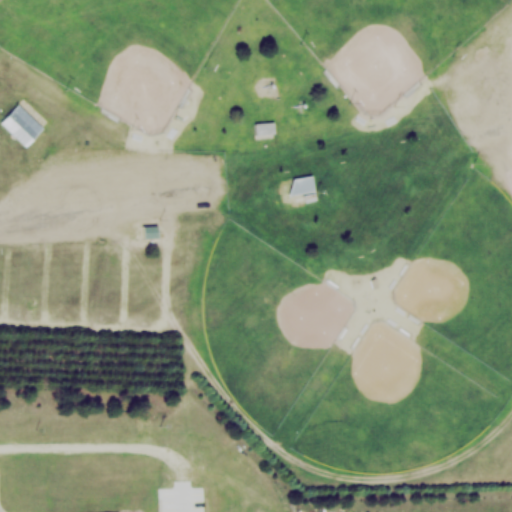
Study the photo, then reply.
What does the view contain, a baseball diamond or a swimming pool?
baseball diamond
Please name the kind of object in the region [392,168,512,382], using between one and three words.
baseball field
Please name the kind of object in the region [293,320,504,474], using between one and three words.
baseball field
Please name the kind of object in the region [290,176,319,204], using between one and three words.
building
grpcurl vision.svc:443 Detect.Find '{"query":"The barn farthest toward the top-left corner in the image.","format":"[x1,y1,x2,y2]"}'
[1,104,44,148]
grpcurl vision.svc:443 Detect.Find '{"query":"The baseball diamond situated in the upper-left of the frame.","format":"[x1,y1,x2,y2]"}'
[0,0,242,134]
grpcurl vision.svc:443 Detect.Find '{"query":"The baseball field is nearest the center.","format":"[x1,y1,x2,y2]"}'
[204,216,356,440]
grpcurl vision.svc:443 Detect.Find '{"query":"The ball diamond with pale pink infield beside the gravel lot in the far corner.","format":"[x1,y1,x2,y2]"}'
[268,0,512,112]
